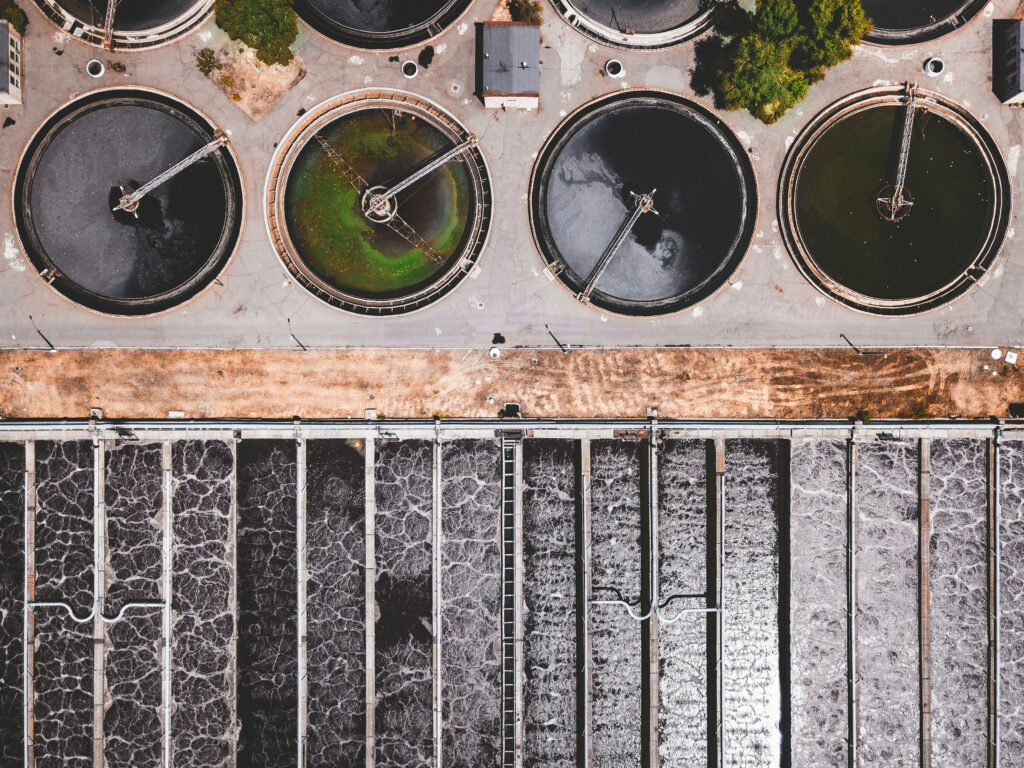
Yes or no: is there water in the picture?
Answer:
Yes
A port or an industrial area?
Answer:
industrial area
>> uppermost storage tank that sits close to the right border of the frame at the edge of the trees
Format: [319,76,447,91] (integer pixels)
[846,0,990,49]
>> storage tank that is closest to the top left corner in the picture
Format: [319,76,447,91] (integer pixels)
[28,0,219,53]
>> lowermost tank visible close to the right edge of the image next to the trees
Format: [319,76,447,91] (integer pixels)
[777,83,1013,319]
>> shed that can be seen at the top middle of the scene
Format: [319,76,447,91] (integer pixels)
[483,23,540,107]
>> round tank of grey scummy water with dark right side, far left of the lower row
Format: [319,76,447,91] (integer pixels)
[11,85,245,319]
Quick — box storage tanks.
[846,0,990,49]
[291,0,477,52]
[11,85,245,319]
[777,83,1013,319]
[546,0,736,52]
[263,86,494,317]
[526,85,760,319]
[28,0,219,53]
